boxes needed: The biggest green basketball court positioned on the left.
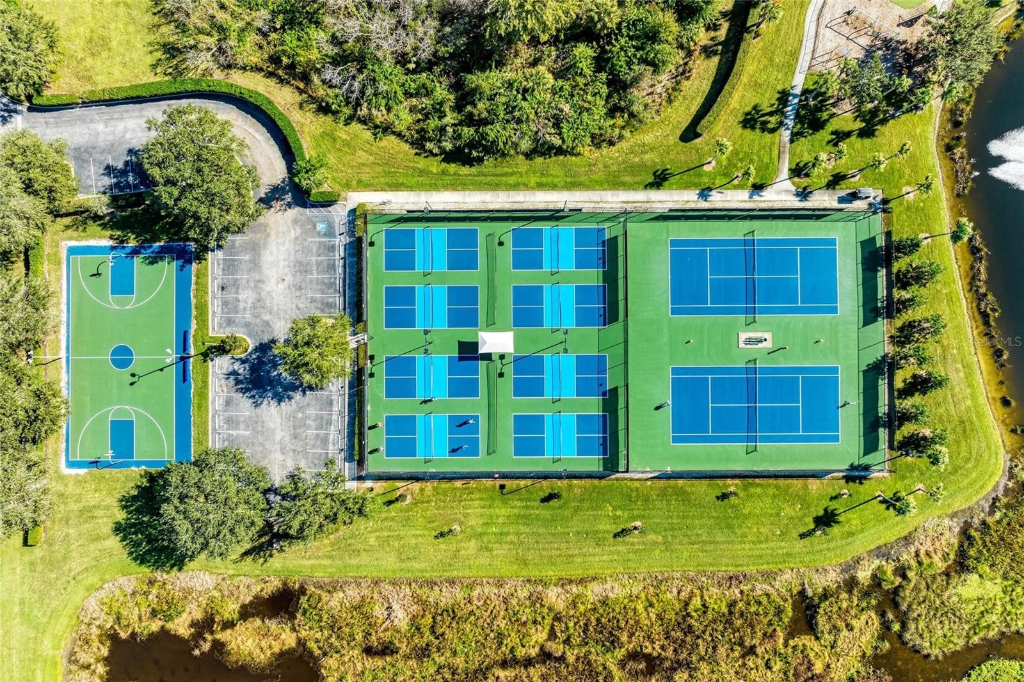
[60,241,195,474]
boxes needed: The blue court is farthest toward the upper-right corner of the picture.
[670,237,839,316]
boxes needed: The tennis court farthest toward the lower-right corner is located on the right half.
[671,366,840,444]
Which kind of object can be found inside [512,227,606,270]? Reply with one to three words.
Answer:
sports court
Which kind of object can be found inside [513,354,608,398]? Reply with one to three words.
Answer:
sports court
